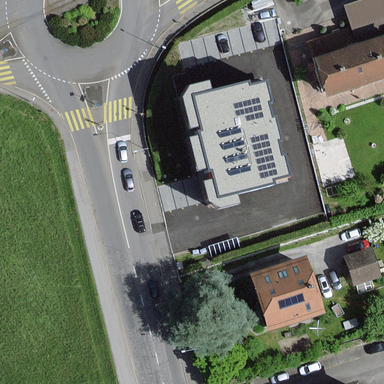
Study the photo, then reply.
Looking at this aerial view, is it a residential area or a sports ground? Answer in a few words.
residential area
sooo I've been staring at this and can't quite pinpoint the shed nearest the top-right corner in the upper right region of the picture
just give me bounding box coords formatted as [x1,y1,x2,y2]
[344,0,384,30]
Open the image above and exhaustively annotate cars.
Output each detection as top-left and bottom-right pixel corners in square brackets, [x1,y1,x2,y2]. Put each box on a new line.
[132,210,144,232]
[341,228,362,240]
[364,342,384,353]
[116,140,128,163]
[252,22,265,44]
[270,372,290,384]
[122,168,134,191]
[300,362,322,375]
[216,32,230,54]
[317,274,332,298]
[329,270,342,290]
[348,240,370,252]
[258,9,278,20]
